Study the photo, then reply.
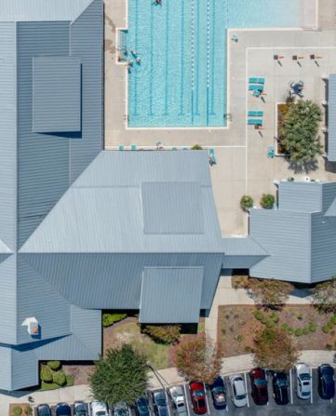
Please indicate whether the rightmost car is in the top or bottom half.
bottom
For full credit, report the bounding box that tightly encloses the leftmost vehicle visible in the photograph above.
[36,399,52,416]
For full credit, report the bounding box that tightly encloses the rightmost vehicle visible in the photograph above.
[315,364,336,400]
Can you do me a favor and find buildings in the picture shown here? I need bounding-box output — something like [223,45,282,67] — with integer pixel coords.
[323,74,336,162]
[236,179,336,284]
[0,0,225,392]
